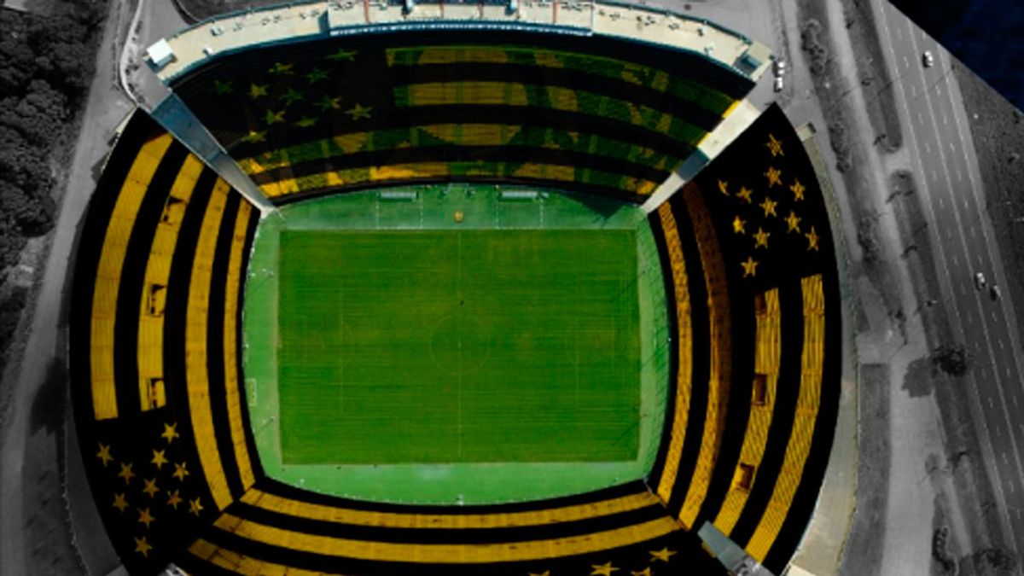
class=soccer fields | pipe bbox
[279,229,640,464]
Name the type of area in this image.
sports ground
